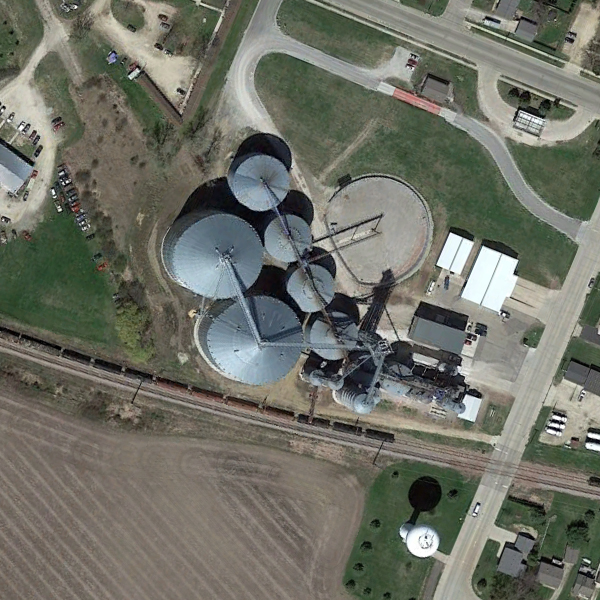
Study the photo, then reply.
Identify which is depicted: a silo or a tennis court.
silo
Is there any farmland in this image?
Yes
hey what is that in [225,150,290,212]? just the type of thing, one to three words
silo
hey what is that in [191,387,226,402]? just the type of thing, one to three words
rail car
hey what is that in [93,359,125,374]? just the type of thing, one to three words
rail car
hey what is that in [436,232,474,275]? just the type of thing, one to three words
building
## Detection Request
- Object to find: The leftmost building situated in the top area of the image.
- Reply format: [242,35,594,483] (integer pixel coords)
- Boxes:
[0,141,34,194]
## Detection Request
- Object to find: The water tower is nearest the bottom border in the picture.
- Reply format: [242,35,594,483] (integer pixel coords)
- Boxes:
[396,521,439,558]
